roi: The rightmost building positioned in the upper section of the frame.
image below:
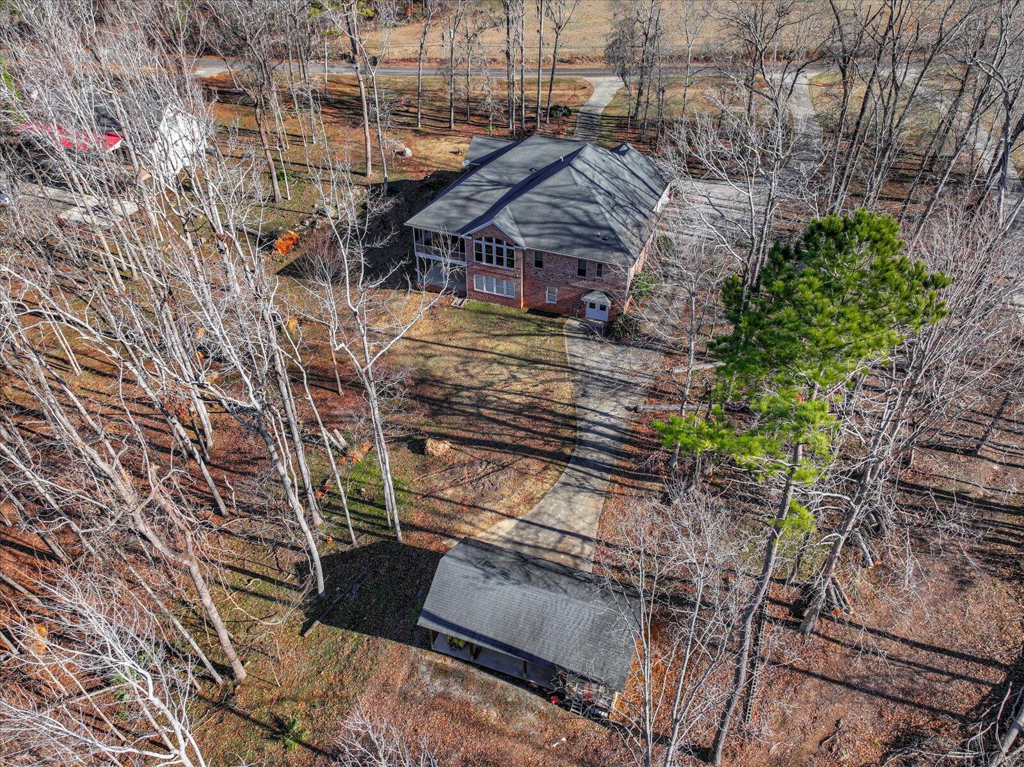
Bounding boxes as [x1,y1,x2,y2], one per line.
[395,135,680,328]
